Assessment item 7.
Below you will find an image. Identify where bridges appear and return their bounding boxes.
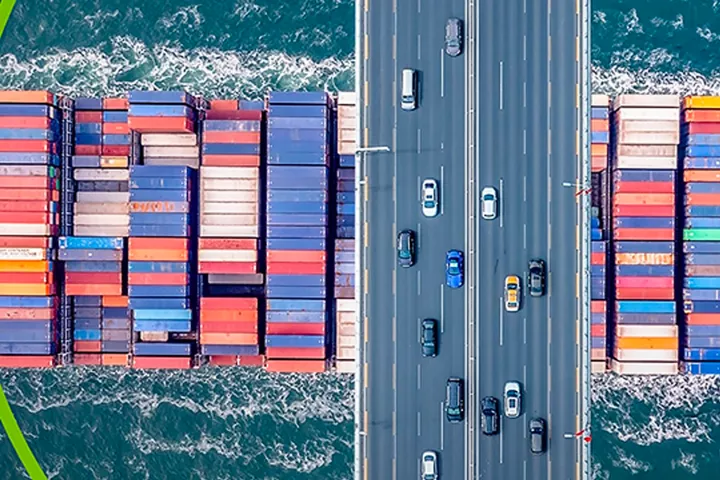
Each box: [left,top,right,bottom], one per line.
[356,0,591,480]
